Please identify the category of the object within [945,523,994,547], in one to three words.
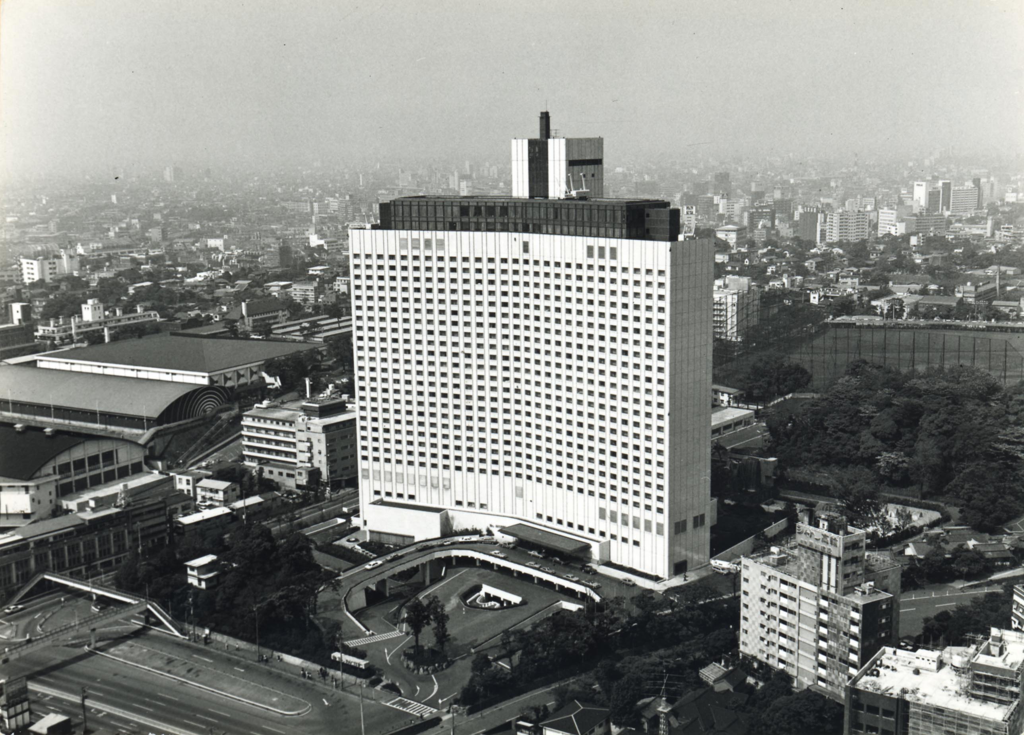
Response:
house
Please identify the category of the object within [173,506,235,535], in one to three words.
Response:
shed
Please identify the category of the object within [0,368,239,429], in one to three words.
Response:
building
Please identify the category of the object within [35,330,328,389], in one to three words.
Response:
building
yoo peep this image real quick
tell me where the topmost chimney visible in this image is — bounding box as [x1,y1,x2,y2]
[541,102,554,138]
